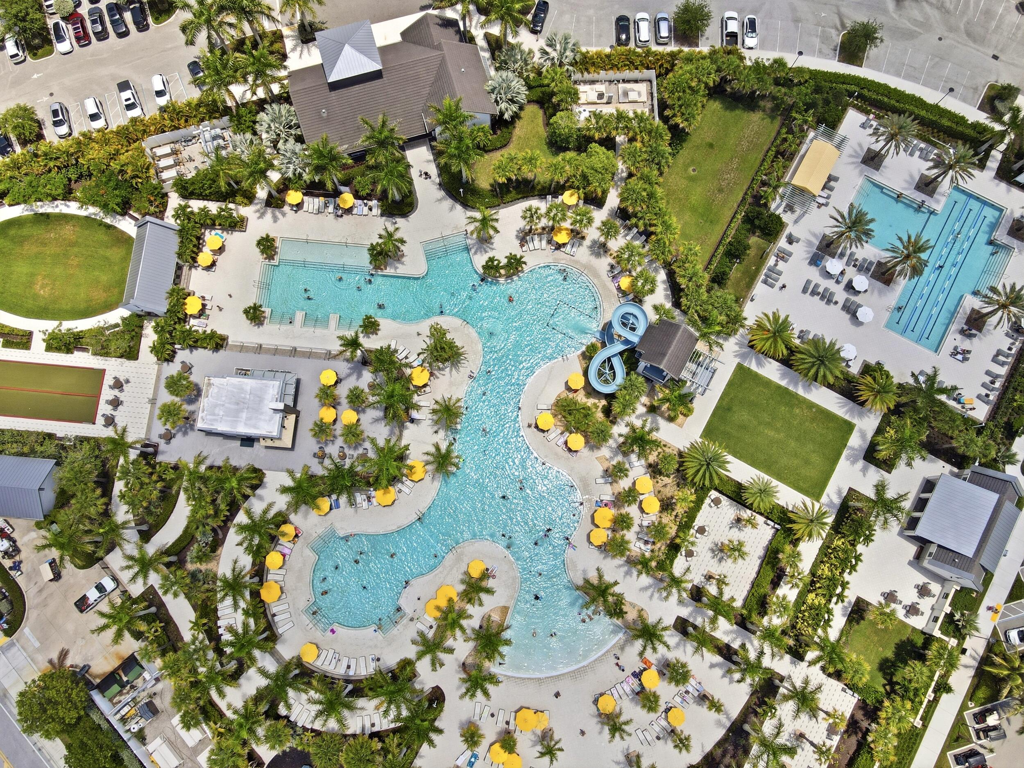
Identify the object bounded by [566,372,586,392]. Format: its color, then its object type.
yellow umbrella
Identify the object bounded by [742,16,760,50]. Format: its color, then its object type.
white car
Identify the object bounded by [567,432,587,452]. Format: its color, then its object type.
yellow umbrella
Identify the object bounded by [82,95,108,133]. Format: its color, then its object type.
white car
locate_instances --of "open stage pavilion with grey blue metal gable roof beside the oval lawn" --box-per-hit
[119,211,187,318]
